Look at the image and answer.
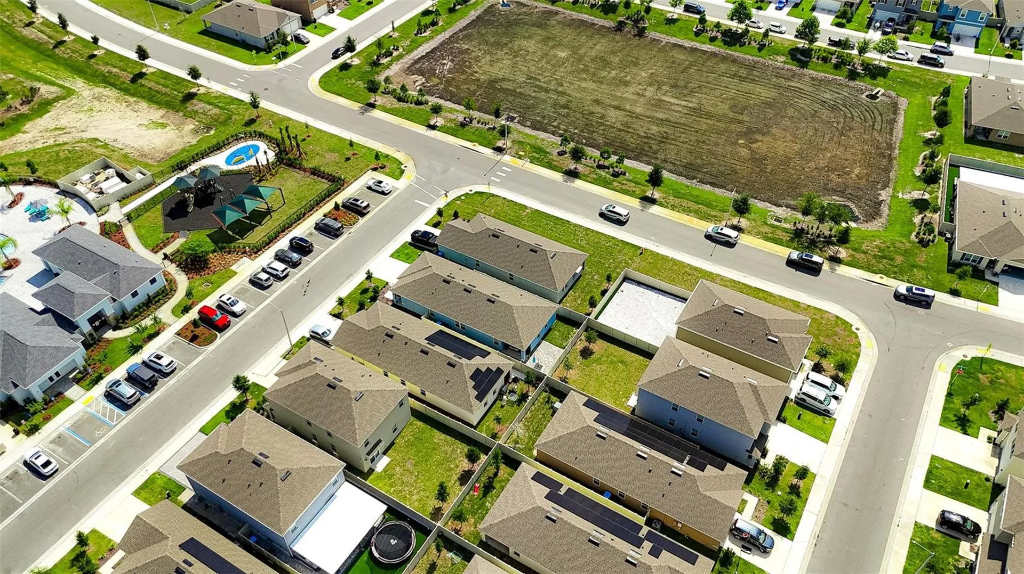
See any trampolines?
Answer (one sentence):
Yes, you can see a trampoline in this photo.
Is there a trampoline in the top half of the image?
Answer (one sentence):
No, in the top half of the image there is no trampoline.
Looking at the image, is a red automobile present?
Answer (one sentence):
Yes, I can see a red automobile in this picture.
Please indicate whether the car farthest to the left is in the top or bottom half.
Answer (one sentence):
It is in the bottom half that the car farthest to the left appears.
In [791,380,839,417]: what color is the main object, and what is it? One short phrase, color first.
white car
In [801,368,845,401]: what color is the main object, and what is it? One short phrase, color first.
white car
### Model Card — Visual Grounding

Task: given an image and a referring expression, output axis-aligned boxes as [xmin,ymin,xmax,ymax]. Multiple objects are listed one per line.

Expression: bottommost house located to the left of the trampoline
[114,498,279,574]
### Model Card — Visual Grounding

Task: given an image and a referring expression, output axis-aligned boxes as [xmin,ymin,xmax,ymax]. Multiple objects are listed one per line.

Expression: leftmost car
[21,450,61,481]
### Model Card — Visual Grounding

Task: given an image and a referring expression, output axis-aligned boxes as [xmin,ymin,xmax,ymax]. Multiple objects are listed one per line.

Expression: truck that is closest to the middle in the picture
[407,229,441,252]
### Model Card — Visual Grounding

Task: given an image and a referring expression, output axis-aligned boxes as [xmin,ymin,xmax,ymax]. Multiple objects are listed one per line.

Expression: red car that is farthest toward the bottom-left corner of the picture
[195,306,230,333]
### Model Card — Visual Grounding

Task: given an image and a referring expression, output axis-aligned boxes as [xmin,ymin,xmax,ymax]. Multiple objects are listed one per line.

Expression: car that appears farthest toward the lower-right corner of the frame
[931,506,986,545]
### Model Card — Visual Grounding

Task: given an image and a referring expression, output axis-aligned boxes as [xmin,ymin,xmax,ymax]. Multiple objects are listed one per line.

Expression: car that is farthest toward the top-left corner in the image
[289,32,312,44]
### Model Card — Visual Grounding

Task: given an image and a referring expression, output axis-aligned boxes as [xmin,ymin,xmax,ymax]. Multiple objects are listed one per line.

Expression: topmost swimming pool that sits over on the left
[225,146,265,163]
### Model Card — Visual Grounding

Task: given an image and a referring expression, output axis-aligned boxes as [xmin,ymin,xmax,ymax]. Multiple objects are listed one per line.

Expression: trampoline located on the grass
[367,519,417,571]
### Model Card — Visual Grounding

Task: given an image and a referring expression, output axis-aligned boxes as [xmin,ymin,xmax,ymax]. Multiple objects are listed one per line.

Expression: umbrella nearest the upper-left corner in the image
[22,194,48,214]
